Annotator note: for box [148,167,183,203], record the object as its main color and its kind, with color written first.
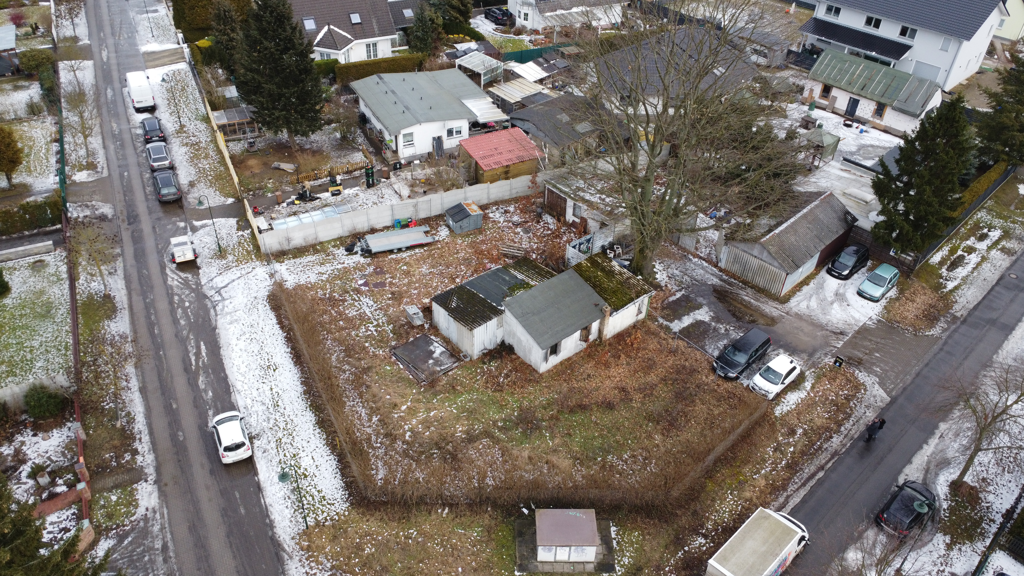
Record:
gray car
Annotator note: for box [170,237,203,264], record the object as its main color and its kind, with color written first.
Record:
white trailer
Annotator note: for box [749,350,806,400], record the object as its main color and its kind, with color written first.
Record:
white car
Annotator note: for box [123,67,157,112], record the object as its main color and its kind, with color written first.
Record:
white van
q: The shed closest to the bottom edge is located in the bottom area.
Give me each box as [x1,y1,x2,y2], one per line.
[533,500,601,562]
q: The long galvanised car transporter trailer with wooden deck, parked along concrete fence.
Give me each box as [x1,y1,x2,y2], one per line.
[343,220,436,259]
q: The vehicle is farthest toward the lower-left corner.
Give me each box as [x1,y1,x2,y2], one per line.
[207,405,252,464]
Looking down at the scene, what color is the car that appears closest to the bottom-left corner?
white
